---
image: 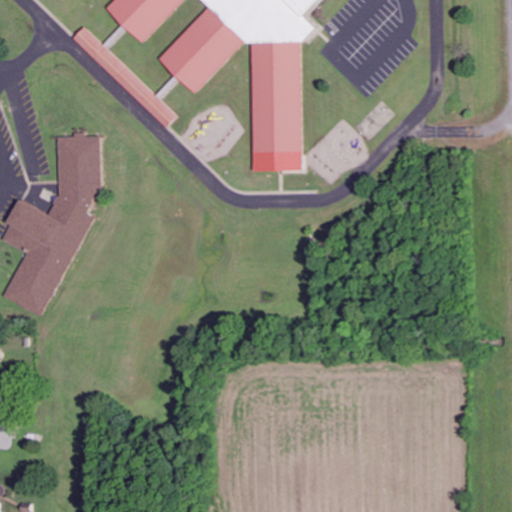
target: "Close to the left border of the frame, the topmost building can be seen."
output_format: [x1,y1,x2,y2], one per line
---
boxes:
[2,131,101,316]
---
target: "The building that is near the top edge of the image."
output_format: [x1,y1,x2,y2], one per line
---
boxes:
[107,0,317,170]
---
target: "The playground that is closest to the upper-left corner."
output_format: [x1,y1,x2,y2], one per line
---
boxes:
[180,104,245,162]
